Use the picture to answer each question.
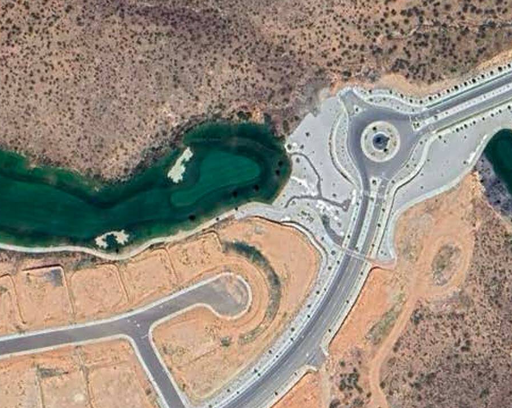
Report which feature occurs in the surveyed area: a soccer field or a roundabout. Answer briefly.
roundabout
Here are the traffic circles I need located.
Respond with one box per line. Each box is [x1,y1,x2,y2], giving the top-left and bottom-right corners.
[340,89,434,192]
